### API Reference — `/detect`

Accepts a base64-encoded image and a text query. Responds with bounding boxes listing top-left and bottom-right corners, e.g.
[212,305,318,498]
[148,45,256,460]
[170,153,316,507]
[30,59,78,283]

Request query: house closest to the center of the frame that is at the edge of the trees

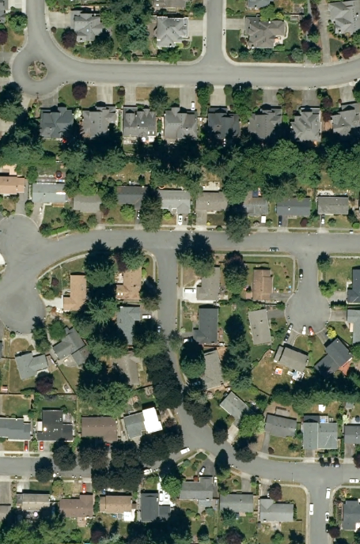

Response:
[194,266,220,300]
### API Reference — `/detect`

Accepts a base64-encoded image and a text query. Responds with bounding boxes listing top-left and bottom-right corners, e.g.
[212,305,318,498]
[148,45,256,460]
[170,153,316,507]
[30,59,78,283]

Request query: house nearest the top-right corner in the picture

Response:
[329,0,360,35]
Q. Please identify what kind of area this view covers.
residential area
